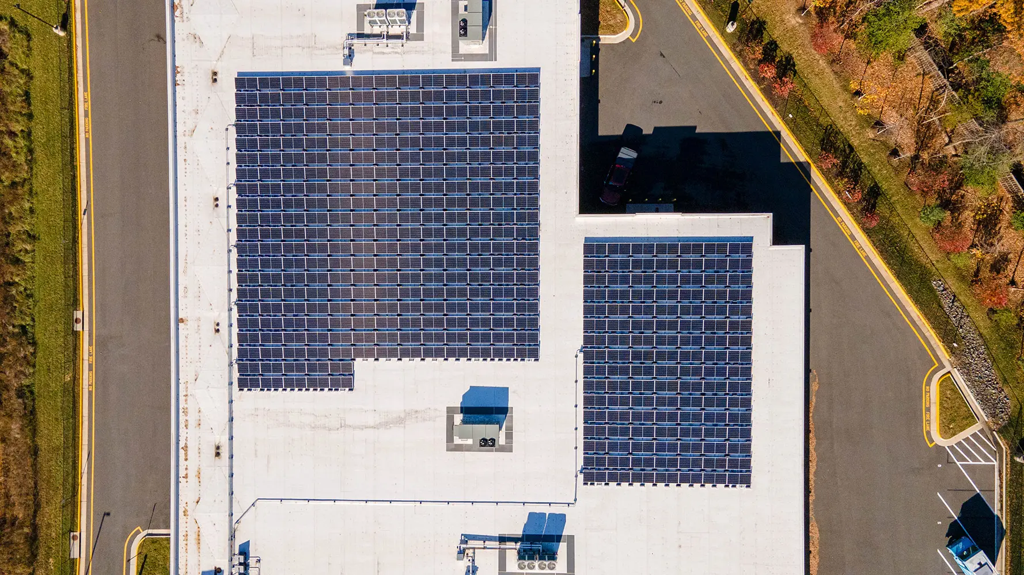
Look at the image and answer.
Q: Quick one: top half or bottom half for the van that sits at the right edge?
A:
bottom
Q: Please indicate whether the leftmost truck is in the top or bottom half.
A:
top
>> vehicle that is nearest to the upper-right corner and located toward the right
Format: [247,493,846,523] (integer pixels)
[599,145,640,207]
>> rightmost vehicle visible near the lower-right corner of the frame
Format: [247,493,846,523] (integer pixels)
[943,530,998,575]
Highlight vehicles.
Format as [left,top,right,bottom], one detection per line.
[943,530,998,575]
[599,145,640,207]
